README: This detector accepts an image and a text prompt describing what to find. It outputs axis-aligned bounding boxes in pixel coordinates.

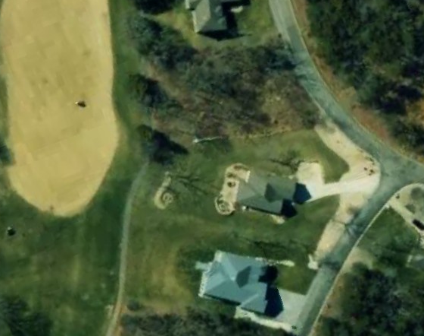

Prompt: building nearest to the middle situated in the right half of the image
[235,171,300,217]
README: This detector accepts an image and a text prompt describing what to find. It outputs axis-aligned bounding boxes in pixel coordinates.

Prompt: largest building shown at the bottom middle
[201,251,272,318]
